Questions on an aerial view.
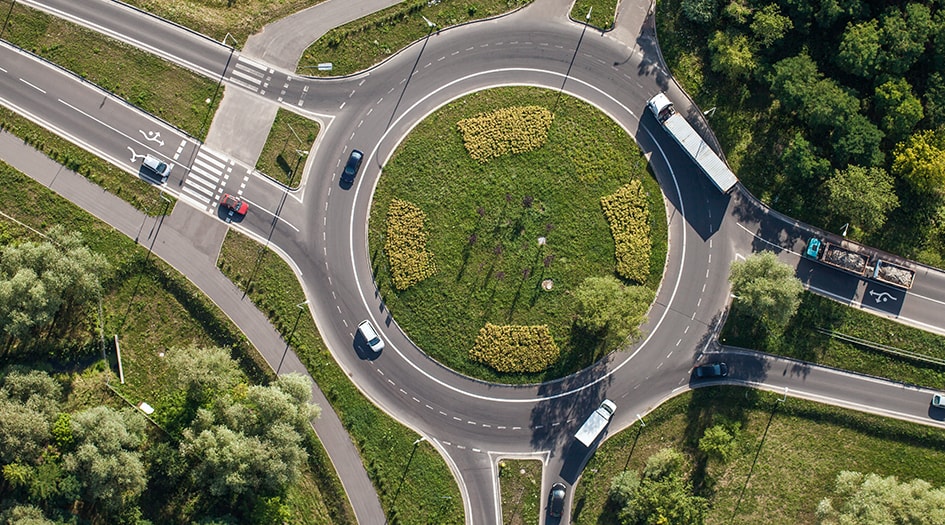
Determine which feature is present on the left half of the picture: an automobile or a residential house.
automobile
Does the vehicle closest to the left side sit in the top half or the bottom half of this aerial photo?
top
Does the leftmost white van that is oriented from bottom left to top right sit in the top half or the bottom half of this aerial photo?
bottom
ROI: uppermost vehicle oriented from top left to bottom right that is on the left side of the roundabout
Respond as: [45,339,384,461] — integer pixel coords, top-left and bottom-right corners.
[141,153,173,178]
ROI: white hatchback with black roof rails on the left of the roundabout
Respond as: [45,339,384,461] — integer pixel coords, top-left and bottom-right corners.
[357,318,385,352]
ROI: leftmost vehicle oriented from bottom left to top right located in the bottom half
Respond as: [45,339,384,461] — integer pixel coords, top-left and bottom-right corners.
[575,400,616,446]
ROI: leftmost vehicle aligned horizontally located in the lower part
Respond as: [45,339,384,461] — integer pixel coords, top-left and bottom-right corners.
[694,362,728,377]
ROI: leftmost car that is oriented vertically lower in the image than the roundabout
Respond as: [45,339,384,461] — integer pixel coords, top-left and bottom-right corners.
[550,483,567,517]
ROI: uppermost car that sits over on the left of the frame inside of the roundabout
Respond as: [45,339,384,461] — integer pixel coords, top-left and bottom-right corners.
[342,149,365,185]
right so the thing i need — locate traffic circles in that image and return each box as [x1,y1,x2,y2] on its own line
[231,10,738,464]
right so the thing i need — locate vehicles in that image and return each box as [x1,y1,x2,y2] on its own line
[141,153,173,178]
[932,394,945,410]
[802,234,916,289]
[357,318,385,352]
[645,94,737,194]
[575,400,616,446]
[550,483,567,517]
[694,362,728,377]
[220,194,248,214]
[342,149,365,185]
